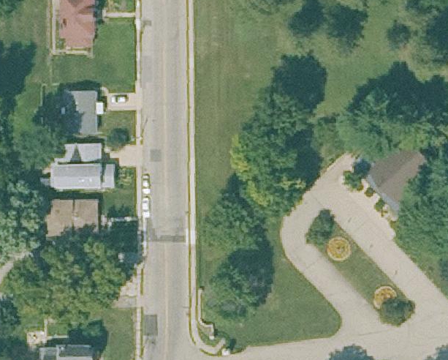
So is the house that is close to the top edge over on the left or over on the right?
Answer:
left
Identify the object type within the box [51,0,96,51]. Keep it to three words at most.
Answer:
house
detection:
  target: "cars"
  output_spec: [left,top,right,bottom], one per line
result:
[142,176,151,195]
[142,198,150,217]
[109,94,128,104]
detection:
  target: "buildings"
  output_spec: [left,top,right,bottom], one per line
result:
[39,345,93,360]
[46,199,98,237]
[366,152,430,215]
[51,0,96,51]
[62,90,104,135]
[50,143,115,190]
